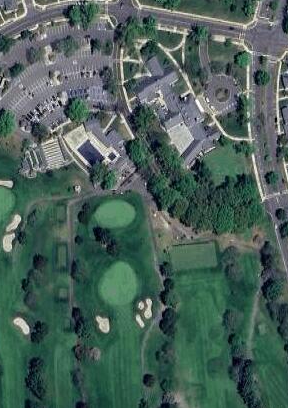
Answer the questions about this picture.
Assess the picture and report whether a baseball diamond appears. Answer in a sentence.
No, no baseball diamond is visible in the scene.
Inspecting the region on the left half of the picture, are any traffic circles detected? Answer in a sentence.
No, I see no traffic circle on the left half of the picture.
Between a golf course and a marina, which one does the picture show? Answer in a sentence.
What you see here is a golf course.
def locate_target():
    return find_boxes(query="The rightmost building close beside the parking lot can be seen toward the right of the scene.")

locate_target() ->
[161,78,218,167]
